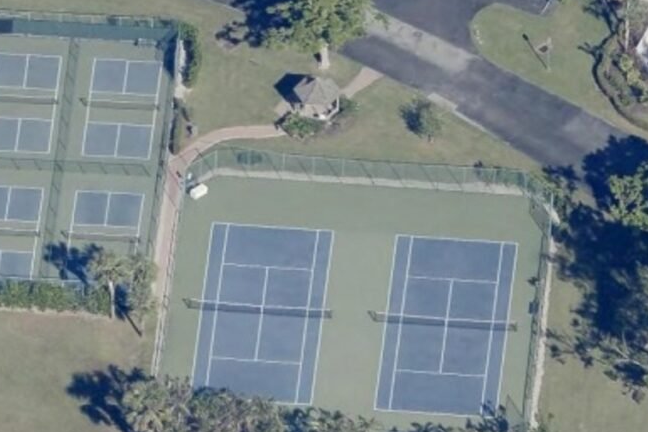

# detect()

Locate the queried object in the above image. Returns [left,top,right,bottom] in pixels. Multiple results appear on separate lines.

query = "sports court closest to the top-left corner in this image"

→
[0,53,62,153]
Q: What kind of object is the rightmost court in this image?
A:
tennis court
